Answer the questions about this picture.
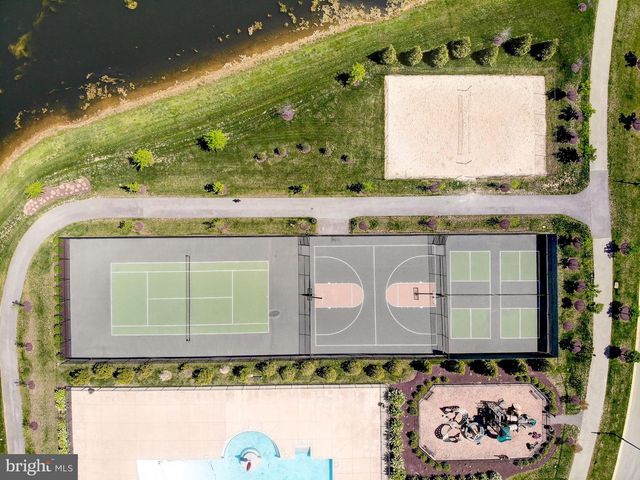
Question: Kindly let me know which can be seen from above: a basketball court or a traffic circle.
basketball court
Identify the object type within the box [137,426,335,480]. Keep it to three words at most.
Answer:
swimming pool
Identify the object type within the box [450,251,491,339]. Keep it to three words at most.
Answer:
sports court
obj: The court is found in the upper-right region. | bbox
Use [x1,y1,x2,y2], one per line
[385,75,547,179]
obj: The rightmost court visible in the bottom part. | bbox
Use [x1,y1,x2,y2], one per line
[500,251,540,339]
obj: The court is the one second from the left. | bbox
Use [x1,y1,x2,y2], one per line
[310,235,441,356]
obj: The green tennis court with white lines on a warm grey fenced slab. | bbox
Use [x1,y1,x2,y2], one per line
[71,236,311,359]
